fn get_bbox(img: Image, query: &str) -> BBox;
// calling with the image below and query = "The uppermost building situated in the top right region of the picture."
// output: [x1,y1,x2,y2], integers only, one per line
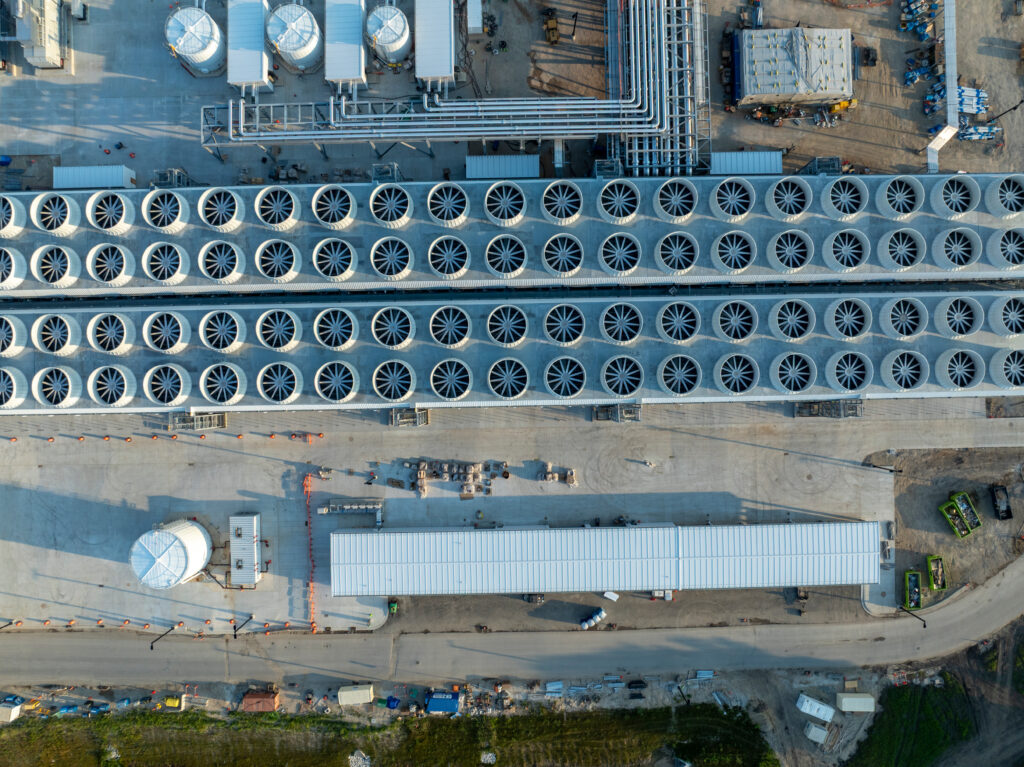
[730,27,852,111]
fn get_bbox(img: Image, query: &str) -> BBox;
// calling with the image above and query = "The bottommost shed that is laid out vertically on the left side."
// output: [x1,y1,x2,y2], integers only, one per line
[230,513,261,585]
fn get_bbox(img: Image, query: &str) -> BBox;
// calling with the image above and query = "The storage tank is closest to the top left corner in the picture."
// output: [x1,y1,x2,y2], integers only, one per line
[163,1,228,80]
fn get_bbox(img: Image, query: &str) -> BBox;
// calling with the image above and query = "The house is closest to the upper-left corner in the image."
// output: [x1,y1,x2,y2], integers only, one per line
[11,0,66,68]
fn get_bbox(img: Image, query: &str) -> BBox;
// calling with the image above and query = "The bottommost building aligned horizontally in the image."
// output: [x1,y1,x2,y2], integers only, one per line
[330,509,881,597]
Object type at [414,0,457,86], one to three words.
shed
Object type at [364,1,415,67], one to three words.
storage tank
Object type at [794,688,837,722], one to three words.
shipping container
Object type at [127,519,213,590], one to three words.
storage tank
